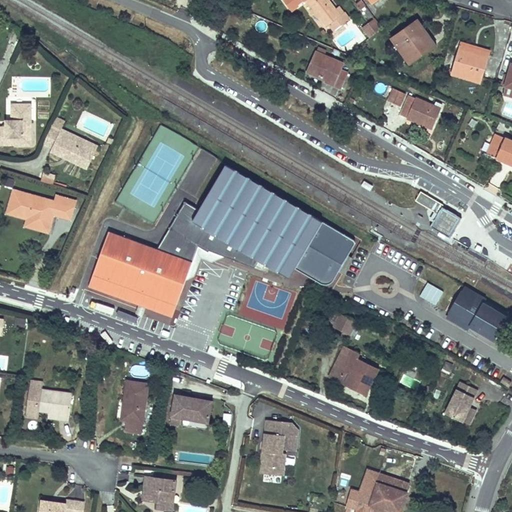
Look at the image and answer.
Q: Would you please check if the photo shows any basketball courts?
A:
Yes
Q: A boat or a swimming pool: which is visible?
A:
swimming pool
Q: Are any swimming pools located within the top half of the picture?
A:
Yes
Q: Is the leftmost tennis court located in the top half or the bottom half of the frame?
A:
top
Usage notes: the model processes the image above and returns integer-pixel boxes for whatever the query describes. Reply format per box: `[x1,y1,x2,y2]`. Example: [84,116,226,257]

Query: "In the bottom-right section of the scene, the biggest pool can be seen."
[400,374,421,390]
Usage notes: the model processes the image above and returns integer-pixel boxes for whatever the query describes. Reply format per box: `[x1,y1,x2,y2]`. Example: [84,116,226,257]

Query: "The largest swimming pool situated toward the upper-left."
[6,76,51,121]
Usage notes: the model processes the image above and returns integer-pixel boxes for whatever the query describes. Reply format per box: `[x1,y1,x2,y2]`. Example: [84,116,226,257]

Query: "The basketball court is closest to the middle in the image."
[238,275,296,332]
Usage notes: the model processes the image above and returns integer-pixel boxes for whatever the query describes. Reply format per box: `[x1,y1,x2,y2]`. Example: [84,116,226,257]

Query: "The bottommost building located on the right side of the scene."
[344,468,410,512]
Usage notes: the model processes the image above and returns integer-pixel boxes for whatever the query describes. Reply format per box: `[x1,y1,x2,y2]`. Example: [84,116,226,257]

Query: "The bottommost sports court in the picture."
[217,316,278,361]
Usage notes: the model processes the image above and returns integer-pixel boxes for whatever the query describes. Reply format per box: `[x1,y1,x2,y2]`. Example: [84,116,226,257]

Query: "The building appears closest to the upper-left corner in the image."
[0,103,36,148]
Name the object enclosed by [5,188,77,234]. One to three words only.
house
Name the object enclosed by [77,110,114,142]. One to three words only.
swimming pool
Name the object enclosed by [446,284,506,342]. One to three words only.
building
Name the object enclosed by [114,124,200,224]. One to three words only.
tennis court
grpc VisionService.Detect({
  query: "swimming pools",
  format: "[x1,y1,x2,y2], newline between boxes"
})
[500,96,512,120]
[0,481,14,512]
[374,82,388,95]
[174,450,214,467]
[400,374,421,390]
[129,364,149,378]
[0,356,9,370]
[77,110,114,142]
[176,504,210,512]
[256,20,268,32]
[6,76,51,121]
[333,20,366,51]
